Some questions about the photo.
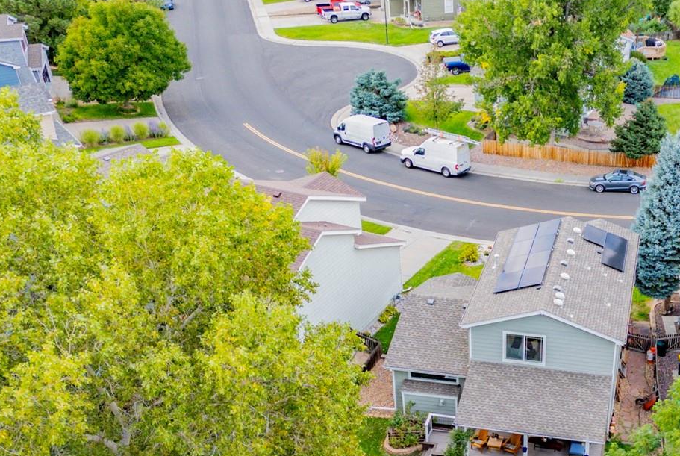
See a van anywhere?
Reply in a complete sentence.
Yes, the photo shows a van.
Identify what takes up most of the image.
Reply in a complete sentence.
The largest share of the image is taken up by trees.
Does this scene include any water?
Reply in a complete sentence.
No, water can't be seen anywhere here.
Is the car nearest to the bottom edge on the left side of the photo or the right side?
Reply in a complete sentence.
It is on the right.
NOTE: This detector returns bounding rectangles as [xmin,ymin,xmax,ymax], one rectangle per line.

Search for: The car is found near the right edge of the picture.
[587,169,649,195]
